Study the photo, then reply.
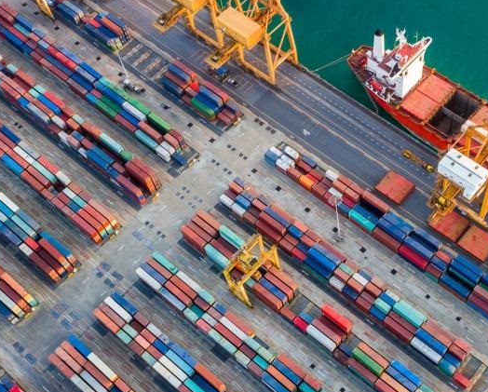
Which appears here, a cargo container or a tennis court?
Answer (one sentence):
The image shows a cargo container.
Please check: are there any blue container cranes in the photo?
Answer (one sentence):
No, no blue container crane is visible in the view.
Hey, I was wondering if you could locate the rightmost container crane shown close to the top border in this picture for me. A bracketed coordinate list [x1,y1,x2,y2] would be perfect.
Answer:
[193,0,301,87]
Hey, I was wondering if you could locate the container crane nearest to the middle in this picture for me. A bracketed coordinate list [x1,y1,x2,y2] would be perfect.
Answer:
[224,236,284,308]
